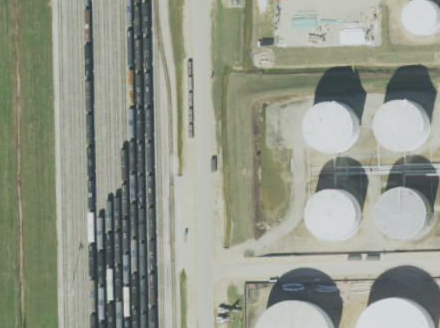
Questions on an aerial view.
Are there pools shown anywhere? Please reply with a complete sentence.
No, the picture doesn't show any pool.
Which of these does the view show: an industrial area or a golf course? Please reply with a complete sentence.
What you see here is an industrial area.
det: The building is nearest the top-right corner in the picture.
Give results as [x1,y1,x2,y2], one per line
[340,29,365,44]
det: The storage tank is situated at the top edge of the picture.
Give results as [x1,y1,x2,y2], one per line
[402,0,440,35]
